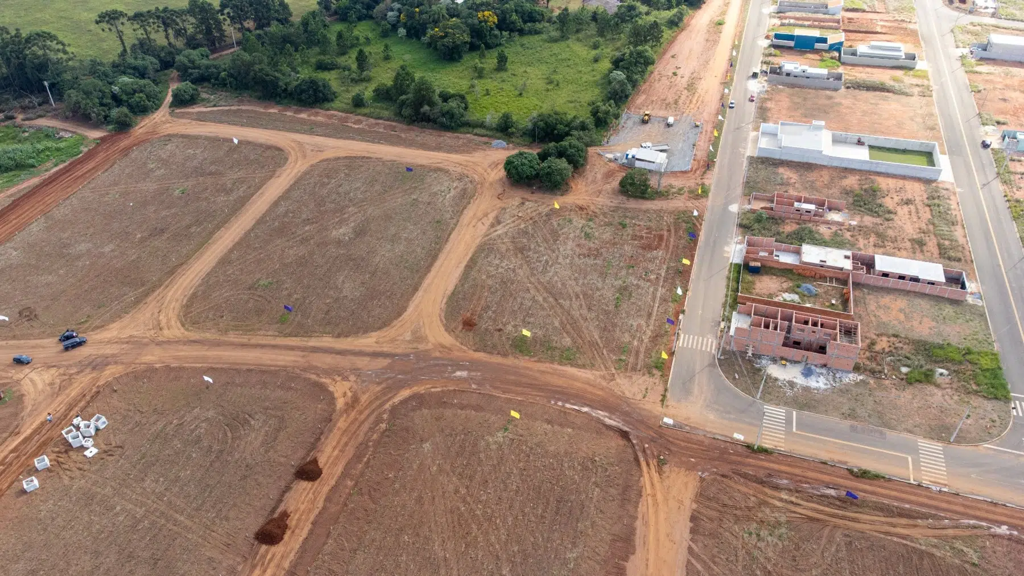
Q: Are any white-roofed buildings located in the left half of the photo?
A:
No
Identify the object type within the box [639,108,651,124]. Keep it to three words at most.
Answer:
vehicle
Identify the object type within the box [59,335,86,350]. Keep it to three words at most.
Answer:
car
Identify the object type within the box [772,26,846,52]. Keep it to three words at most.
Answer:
house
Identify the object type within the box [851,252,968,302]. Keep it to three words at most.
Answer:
house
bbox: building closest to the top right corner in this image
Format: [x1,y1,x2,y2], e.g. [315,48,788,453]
[970,33,1024,63]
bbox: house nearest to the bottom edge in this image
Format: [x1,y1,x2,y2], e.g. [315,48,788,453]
[729,301,861,373]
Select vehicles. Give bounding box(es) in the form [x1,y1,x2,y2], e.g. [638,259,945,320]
[59,335,86,350]
[667,109,677,124]
[750,93,756,100]
[10,354,32,365]
[857,137,871,147]
[692,118,701,127]
[729,99,736,107]
[759,68,771,74]
[641,138,672,152]
[57,326,79,341]
[639,108,651,124]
